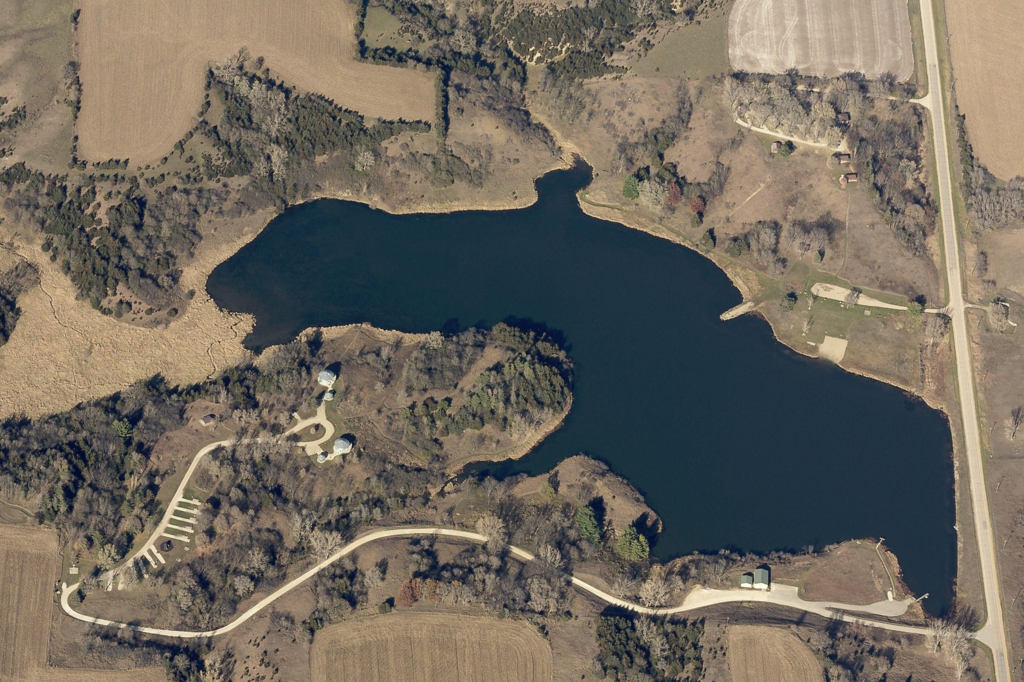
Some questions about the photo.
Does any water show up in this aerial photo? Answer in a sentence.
Yes, there is water in the image.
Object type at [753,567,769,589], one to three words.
shed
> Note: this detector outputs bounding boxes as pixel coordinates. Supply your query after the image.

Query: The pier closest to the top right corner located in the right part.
[720,301,757,320]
